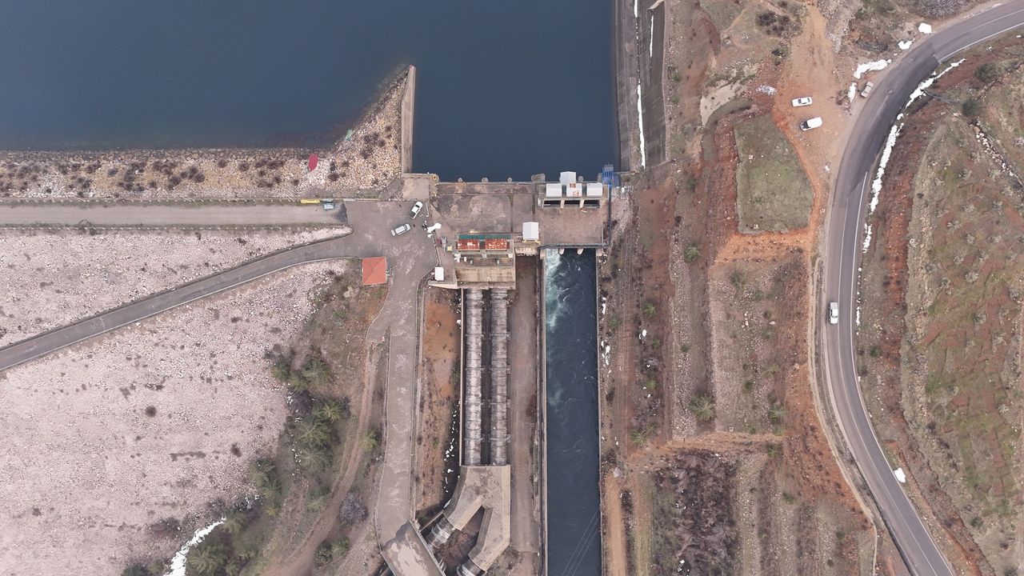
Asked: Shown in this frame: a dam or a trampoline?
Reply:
dam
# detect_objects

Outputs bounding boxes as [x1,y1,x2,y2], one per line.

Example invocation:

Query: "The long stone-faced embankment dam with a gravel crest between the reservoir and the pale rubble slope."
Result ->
[0,59,411,576]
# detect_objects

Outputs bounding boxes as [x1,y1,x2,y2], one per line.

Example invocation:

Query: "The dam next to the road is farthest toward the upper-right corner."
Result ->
[433,173,607,260]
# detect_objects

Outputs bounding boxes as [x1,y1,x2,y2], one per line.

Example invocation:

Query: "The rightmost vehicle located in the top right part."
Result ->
[859,81,873,98]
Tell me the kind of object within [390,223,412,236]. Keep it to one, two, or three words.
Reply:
vehicle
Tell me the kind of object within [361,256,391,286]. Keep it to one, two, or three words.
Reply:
building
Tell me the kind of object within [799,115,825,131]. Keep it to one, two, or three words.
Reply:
vehicle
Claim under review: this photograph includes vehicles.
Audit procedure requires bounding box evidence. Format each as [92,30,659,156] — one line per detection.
[859,81,873,98]
[390,223,412,236]
[799,115,825,131]
[829,302,840,324]
[791,97,812,107]
[408,201,425,220]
